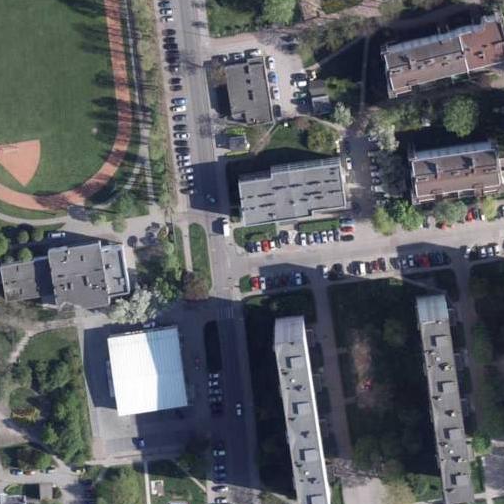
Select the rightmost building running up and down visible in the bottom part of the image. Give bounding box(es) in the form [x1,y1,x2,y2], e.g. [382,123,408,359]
[420,297,474,504]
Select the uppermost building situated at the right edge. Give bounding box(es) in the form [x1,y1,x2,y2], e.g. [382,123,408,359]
[383,12,504,96]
